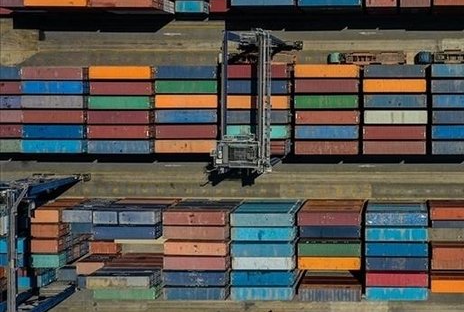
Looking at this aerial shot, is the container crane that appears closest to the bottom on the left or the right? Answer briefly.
left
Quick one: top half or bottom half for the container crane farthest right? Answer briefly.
top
